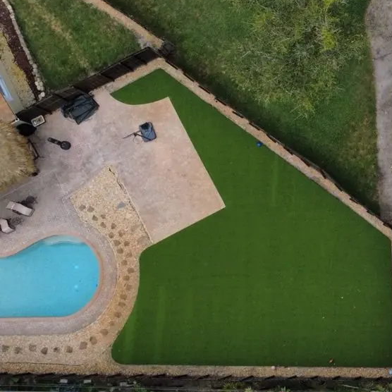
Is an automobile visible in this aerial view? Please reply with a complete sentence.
No, there is no automobile in the image.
